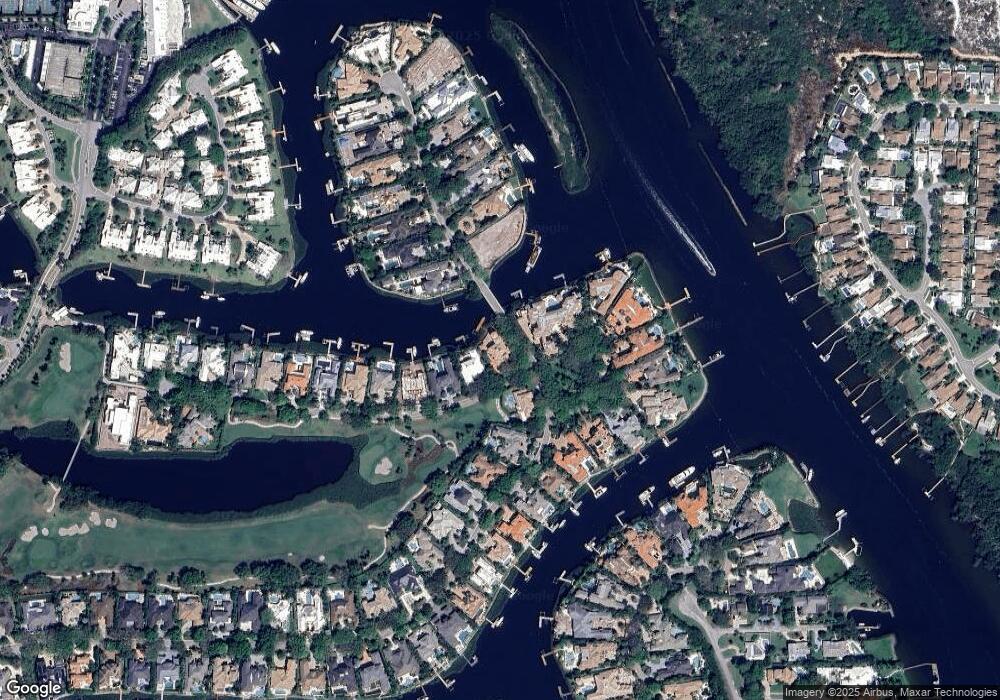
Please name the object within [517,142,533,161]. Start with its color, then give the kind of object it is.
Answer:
white boat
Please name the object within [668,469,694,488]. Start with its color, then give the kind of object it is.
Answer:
white boat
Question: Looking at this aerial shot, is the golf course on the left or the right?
left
